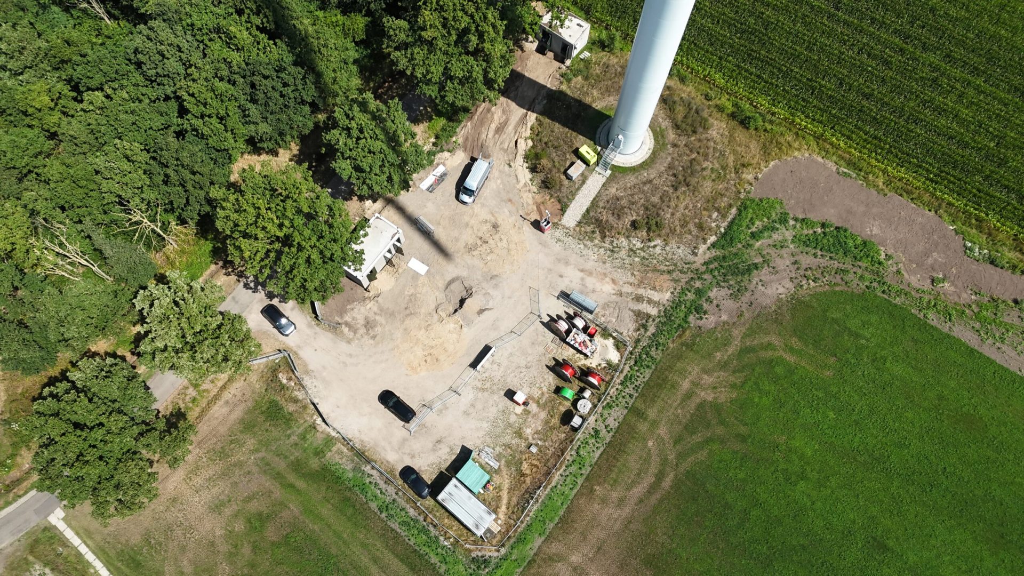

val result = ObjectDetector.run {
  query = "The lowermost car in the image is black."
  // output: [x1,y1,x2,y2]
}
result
[395,462,434,503]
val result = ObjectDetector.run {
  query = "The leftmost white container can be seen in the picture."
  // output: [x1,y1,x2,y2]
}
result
[437,478,496,547]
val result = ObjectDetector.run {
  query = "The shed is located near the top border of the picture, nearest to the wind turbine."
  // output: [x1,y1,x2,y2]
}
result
[541,9,593,61]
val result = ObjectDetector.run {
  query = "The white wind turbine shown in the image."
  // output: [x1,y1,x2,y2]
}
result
[595,0,695,179]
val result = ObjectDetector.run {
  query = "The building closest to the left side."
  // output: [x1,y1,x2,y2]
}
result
[336,215,405,287]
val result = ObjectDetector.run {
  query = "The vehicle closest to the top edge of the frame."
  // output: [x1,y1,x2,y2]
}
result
[458,153,499,205]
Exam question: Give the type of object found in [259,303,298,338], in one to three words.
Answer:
car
